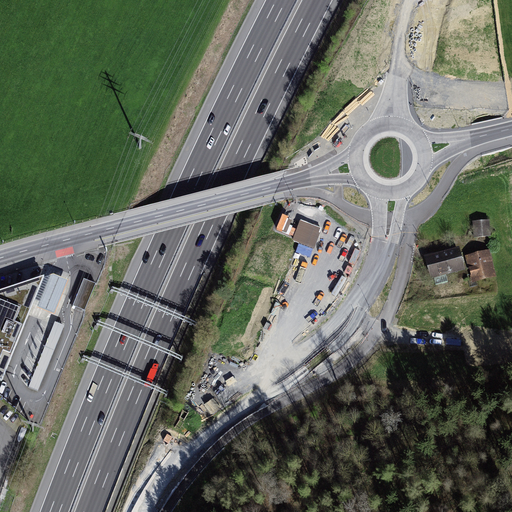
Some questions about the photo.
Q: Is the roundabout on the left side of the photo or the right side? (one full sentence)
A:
The roundabout appears in the right half of the scene.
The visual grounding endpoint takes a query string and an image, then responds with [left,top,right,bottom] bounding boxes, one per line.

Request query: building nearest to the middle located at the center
[293,220,320,250]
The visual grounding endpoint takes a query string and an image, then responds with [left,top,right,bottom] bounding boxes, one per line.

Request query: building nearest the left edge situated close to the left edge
[0,275,44,384]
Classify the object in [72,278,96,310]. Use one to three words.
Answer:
shed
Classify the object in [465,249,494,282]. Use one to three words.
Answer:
barn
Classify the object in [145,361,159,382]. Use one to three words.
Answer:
vehicle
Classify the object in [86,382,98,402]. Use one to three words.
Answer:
vehicle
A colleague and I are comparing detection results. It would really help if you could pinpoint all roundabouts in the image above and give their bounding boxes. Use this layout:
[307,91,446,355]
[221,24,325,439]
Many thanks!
[348,116,432,200]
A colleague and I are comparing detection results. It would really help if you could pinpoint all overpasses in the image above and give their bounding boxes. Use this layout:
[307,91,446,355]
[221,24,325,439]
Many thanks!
[100,168,292,248]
